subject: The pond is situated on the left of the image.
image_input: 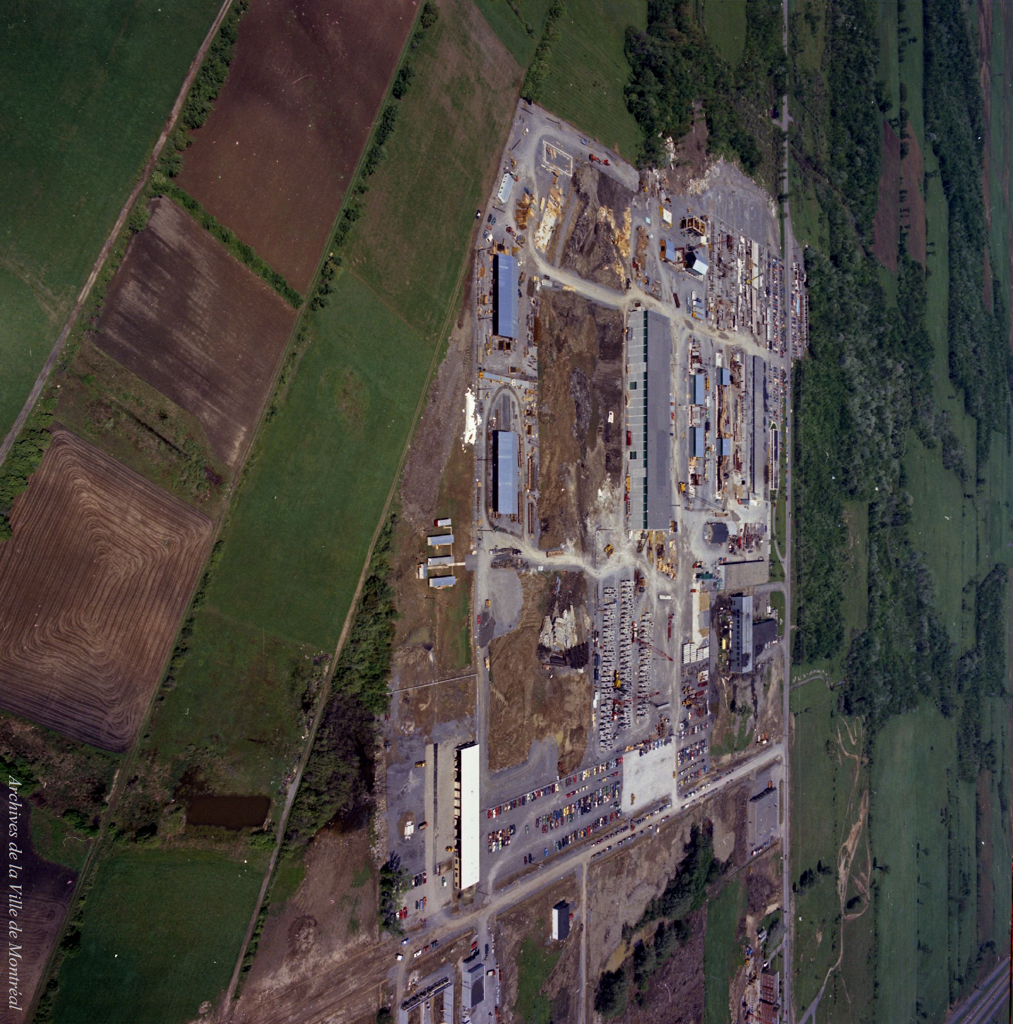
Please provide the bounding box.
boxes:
[186,796,271,831]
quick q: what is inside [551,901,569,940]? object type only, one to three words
barn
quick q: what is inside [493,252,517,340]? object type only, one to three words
shed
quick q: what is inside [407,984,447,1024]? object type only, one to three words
building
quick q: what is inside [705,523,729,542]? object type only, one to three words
building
